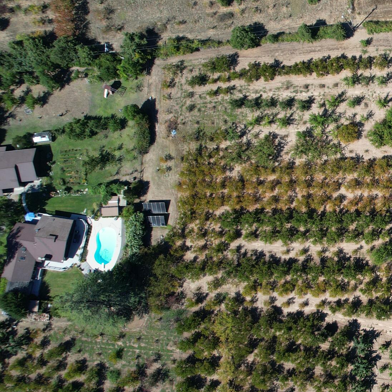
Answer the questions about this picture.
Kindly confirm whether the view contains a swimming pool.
Yes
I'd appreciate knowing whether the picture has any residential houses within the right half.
No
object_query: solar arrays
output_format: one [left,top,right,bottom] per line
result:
[141,202,169,213]
[147,216,168,226]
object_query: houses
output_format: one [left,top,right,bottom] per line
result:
[0,148,44,190]
[1,215,75,293]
